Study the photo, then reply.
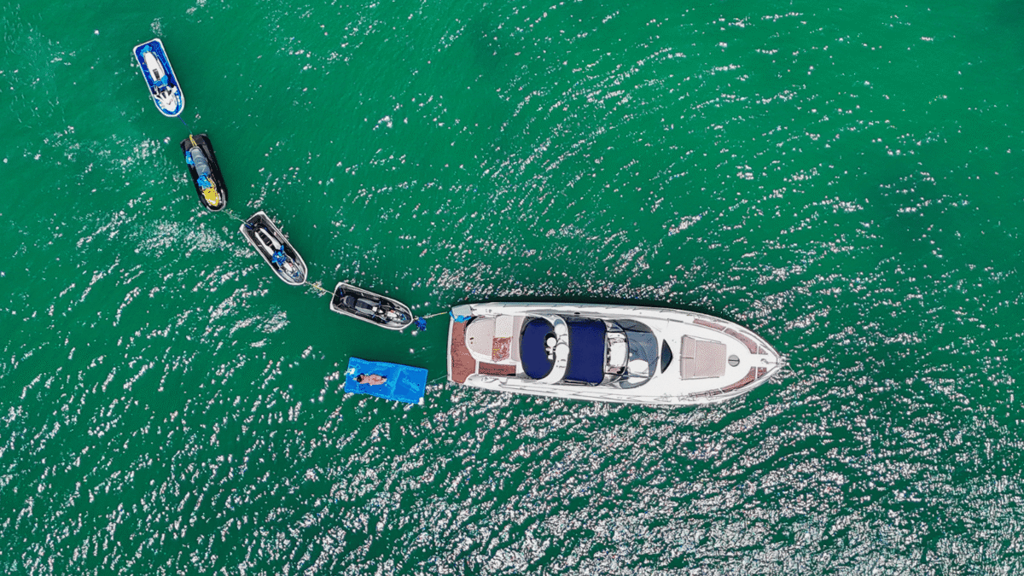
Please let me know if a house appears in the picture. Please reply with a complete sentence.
No, there isn't any house down there.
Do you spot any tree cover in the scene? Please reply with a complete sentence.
No, tree cover can't be seen anywhere here.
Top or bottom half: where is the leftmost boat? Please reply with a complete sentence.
Seen from above, the leftmost boat lies in the top half of the view.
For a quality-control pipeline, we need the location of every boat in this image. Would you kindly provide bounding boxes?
[136,41,184,119]
[243,212,309,286]
[448,303,790,404]
[332,282,414,329]
[182,135,228,213]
